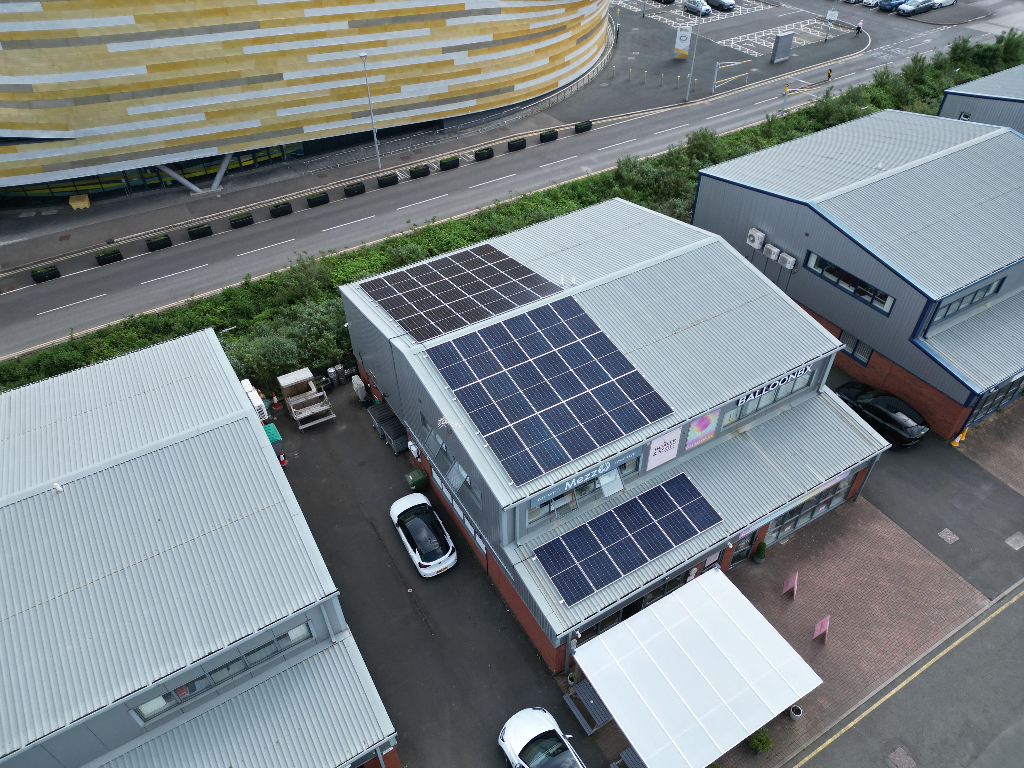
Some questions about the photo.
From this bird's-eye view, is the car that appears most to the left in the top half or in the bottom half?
bottom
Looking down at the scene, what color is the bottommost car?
white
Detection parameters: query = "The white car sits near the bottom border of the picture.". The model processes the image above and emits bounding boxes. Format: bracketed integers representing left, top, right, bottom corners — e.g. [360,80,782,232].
[498,707,585,768]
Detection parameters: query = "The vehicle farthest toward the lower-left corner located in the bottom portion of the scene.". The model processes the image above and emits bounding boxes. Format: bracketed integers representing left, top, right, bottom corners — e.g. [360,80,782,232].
[387,494,459,577]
